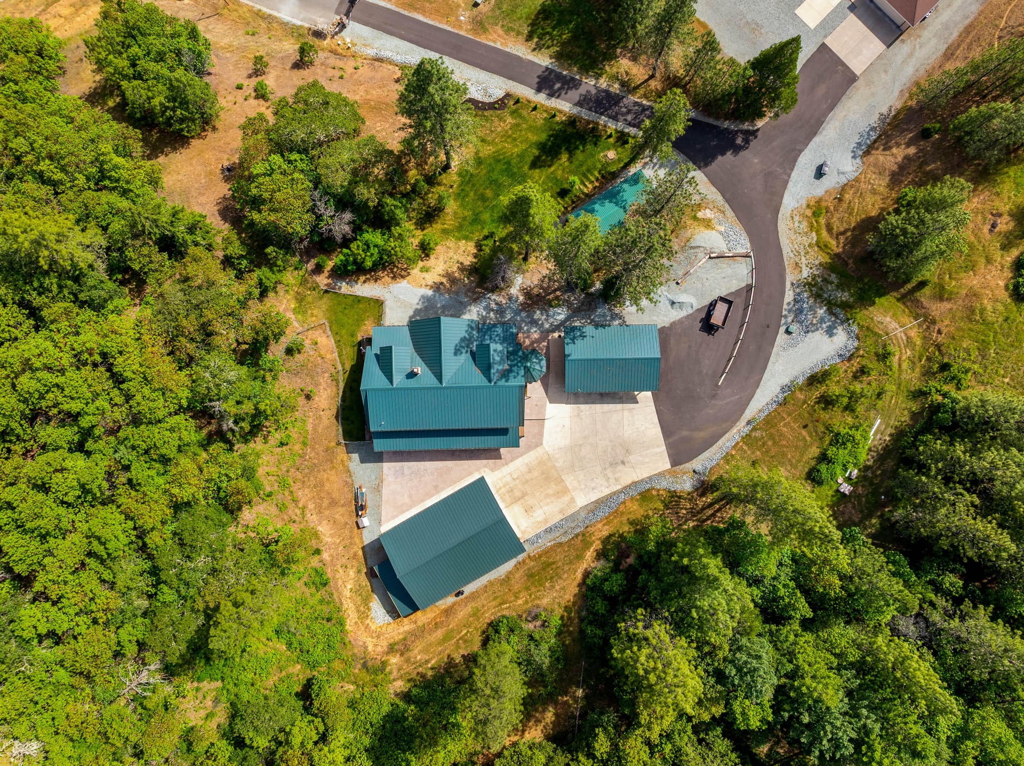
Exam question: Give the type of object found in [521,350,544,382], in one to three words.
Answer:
gazebo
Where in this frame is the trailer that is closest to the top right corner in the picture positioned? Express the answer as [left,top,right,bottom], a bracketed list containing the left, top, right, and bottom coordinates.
[709,294,738,339]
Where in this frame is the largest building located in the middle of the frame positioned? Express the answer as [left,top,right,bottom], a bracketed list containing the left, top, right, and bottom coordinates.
[354,316,528,452]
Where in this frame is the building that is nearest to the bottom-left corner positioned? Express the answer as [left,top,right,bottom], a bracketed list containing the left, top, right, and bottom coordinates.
[373,475,526,620]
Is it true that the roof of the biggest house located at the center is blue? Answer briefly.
Yes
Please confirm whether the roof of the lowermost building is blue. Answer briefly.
Yes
